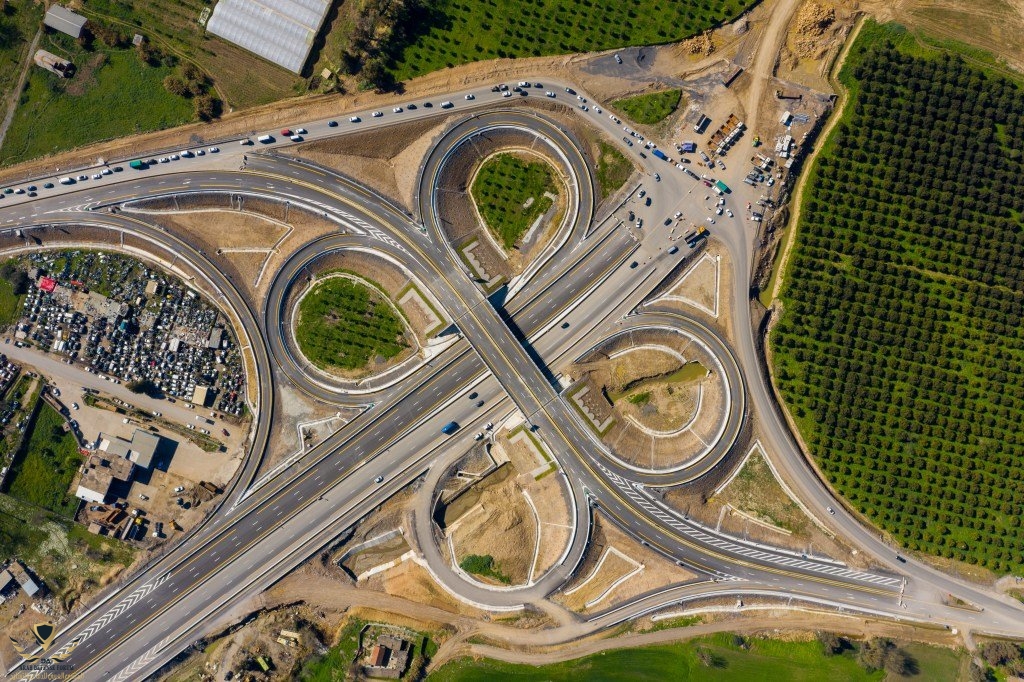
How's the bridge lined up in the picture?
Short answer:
at an angle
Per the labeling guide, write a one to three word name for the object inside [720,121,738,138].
vehicle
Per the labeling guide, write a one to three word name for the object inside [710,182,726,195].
vehicle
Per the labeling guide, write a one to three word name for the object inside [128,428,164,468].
building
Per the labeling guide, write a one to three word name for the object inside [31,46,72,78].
barn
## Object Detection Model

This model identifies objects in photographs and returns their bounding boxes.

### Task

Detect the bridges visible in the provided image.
[456,298,558,415]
